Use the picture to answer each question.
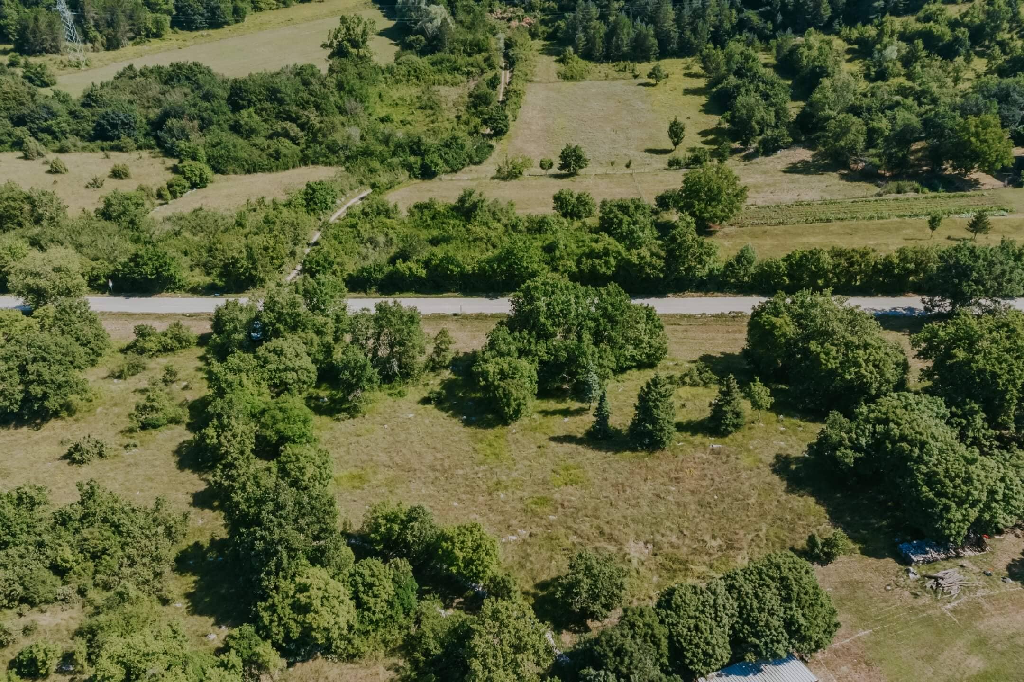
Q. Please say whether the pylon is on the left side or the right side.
left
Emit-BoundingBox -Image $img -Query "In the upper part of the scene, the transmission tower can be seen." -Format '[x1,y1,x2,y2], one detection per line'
[40,0,84,63]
